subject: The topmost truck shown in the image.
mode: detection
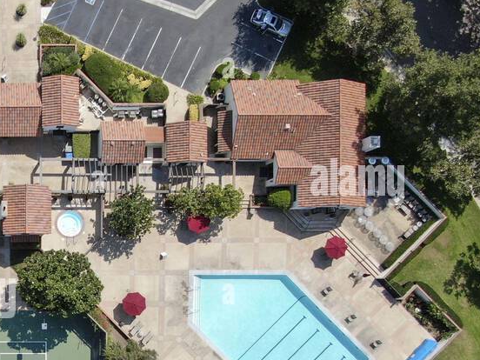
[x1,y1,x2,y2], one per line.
[247,8,295,38]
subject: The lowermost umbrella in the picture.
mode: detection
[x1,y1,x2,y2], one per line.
[122,292,145,315]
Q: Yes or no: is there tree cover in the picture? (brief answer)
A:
Yes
